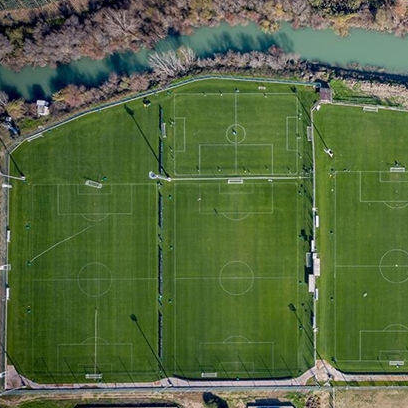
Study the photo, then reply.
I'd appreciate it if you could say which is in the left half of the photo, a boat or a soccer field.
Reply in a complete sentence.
What appears in the left half of the photo is a soccer field.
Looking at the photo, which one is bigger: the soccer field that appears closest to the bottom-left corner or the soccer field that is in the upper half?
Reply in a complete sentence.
The soccer field that appears closest to the bottom-left corner is bigger than the soccer field that is in the upper half.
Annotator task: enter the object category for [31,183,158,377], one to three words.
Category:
soccer field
